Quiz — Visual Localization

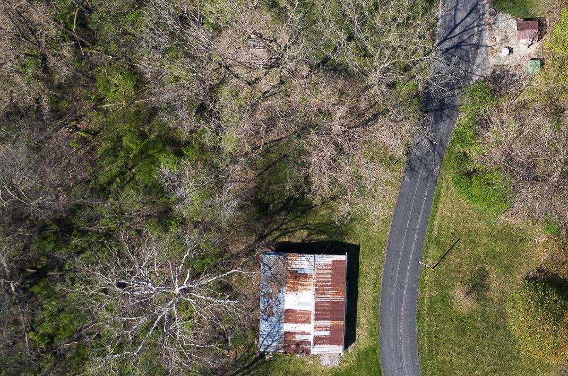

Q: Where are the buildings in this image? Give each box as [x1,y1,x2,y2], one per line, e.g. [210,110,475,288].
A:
[516,17,538,38]
[258,253,350,357]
